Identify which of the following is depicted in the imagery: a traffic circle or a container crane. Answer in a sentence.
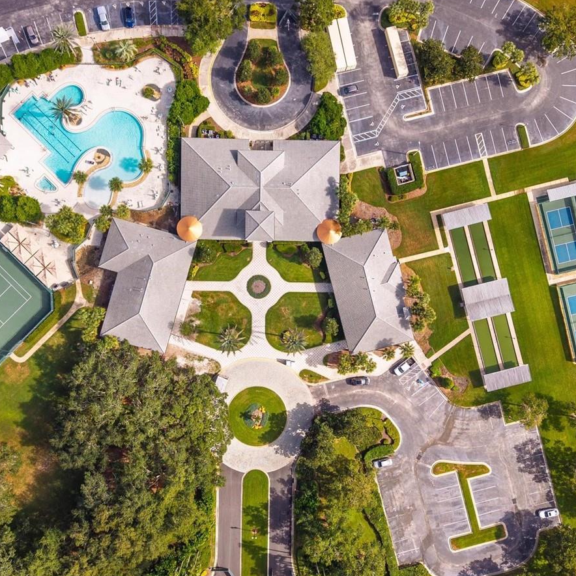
Visible in the photo is a traffic circle.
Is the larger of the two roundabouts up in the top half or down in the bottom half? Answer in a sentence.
The larger of the two roundabouts sits in the bottom half of the picture.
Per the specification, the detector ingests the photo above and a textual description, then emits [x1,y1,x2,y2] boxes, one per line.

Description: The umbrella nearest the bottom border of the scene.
[25,248,64,287]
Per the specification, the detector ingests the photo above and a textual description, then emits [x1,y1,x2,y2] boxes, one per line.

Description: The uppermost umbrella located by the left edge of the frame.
[0,224,39,264]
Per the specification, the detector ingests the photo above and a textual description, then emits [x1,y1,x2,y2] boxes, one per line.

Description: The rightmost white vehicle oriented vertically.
[97,5,110,31]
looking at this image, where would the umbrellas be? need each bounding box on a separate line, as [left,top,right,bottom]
[25,248,64,287]
[165,84,175,95]
[0,224,39,264]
